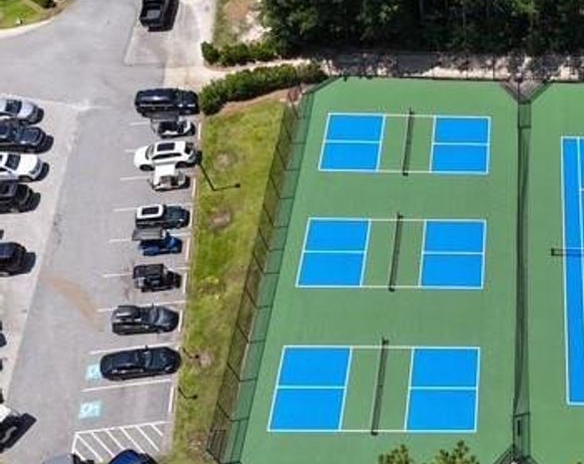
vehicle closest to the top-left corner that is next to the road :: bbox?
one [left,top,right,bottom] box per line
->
[0,95,47,125]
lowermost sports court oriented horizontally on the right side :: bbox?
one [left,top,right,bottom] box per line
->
[269,337,480,437]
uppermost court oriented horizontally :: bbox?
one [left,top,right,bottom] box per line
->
[319,104,490,175]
